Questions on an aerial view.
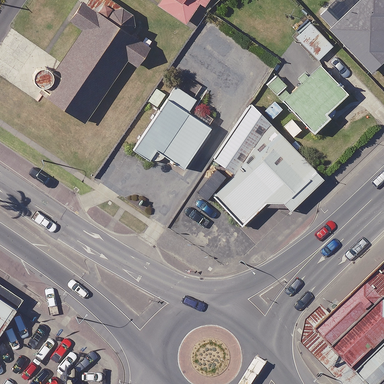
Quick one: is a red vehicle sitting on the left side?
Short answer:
Yes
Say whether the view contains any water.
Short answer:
No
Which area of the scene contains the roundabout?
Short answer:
bottom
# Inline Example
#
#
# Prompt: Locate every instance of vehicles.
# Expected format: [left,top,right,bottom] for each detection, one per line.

[45,288,58,315]
[238,356,268,384]
[20,358,42,380]
[30,208,59,233]
[28,166,58,188]
[344,236,373,262]
[13,316,28,338]
[196,198,222,220]
[312,220,338,243]
[34,338,54,362]
[184,206,214,230]
[12,354,29,374]
[180,295,208,312]
[56,352,78,375]
[74,351,100,375]
[0,341,12,362]
[330,56,351,78]
[82,372,102,383]
[30,368,52,384]
[294,290,316,312]
[284,276,306,297]
[27,324,48,348]
[6,329,20,350]
[67,278,92,300]
[3,377,15,384]
[372,170,384,189]
[320,236,343,258]
[49,338,72,363]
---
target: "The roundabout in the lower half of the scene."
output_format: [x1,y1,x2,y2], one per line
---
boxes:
[178,325,242,384]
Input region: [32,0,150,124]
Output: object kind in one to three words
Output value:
building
